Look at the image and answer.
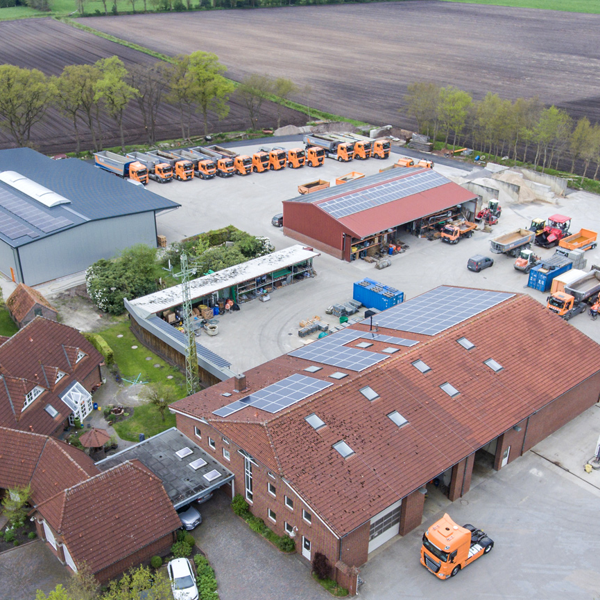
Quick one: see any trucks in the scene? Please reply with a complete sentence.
Yes, looking at the shot, I can spot a truck.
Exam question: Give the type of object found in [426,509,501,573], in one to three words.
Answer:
truck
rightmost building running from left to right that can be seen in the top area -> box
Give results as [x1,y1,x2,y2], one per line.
[282,166,478,262]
